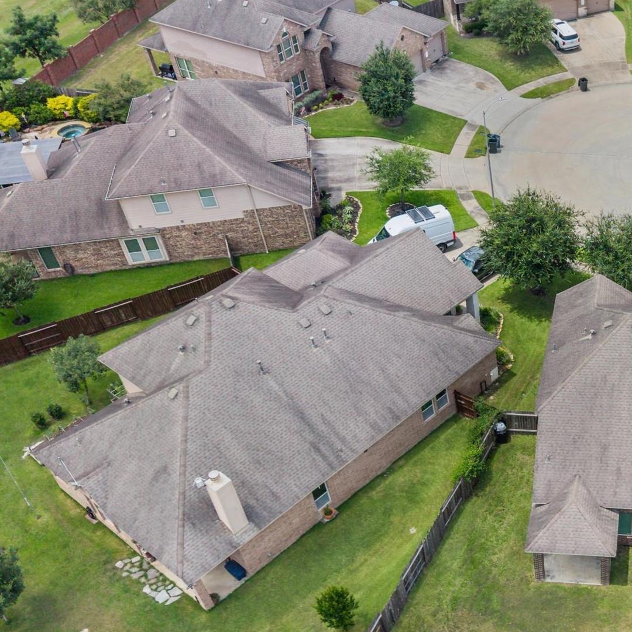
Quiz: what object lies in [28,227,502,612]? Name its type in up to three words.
house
